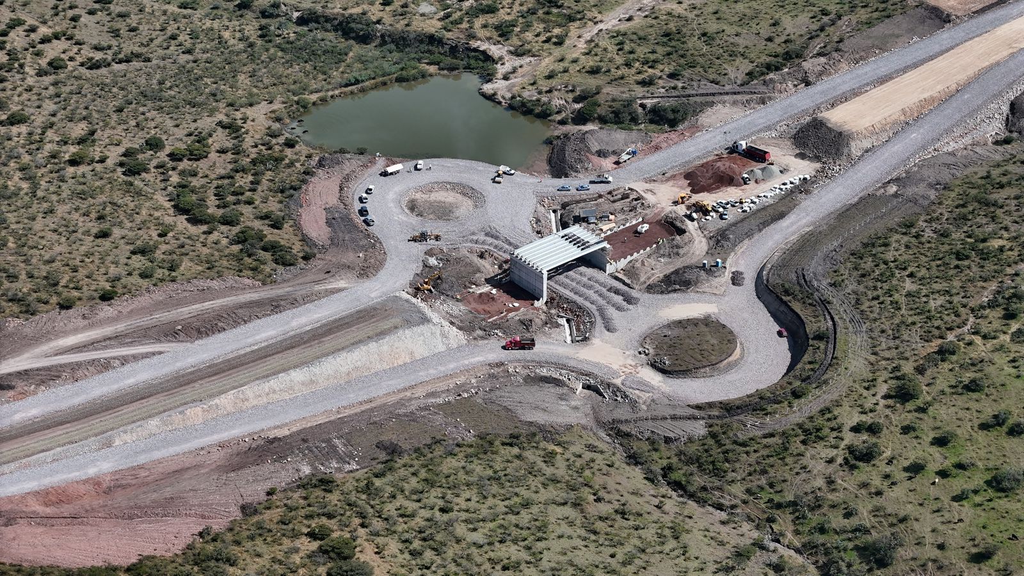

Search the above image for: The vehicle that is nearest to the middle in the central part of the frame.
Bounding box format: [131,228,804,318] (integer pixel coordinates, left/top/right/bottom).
[503,337,535,352]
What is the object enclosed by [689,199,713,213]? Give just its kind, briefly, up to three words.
work vehicle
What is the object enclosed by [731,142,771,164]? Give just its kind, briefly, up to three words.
truck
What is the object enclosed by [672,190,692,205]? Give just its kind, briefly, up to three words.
work vehicle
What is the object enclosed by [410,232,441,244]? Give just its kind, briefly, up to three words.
vehicle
